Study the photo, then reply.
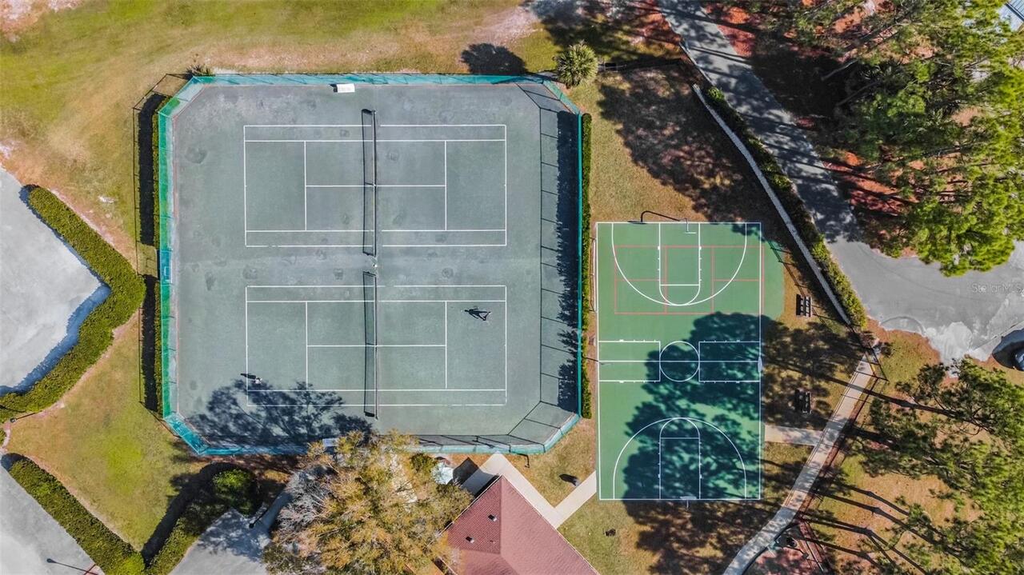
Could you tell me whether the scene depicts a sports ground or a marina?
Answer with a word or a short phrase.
sports ground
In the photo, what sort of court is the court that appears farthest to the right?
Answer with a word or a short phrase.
basketball court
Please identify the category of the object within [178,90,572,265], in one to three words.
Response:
tennis court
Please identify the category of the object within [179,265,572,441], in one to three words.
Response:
tennis court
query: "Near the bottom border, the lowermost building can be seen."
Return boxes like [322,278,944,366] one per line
[438,475,606,575]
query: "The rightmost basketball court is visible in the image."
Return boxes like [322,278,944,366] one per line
[595,221,785,503]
